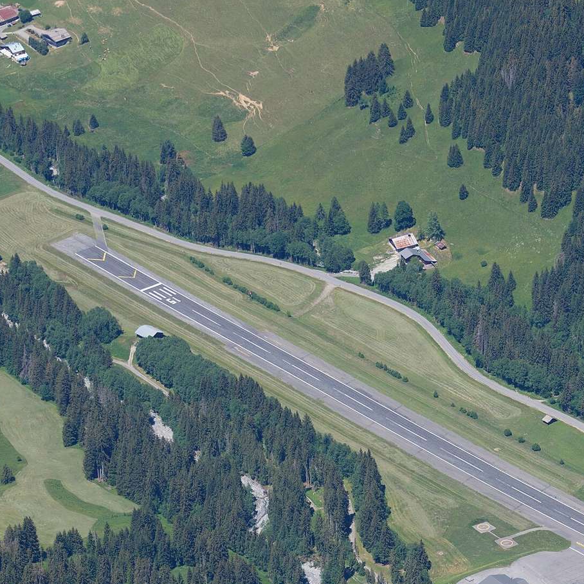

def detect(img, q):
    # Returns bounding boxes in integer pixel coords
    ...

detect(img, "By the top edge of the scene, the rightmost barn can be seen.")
[46,28,72,48]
